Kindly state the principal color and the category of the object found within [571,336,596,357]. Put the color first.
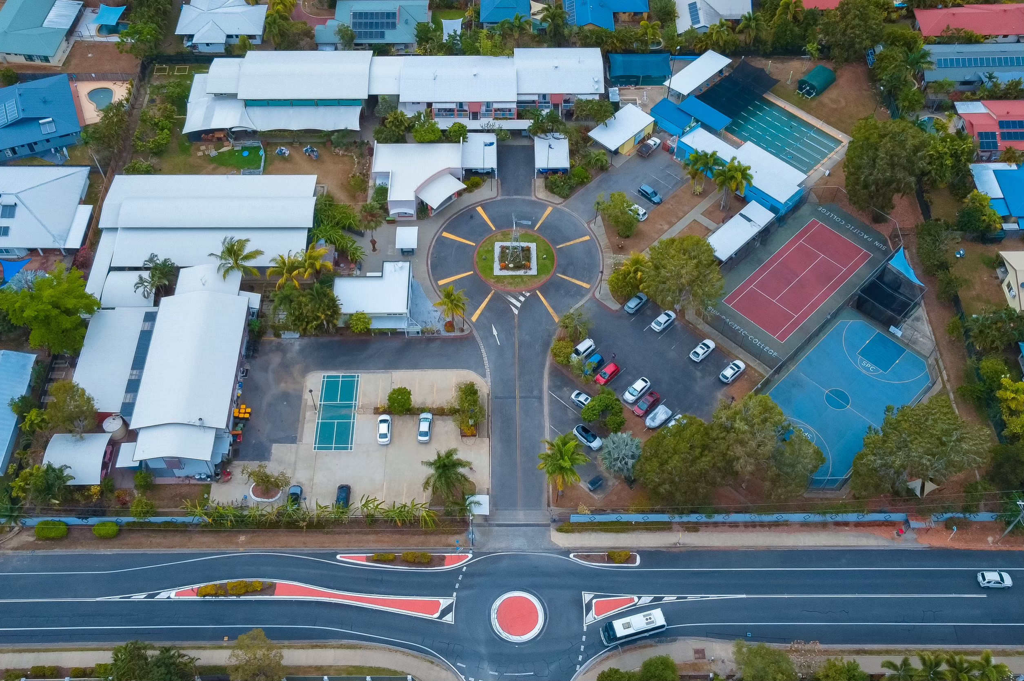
white car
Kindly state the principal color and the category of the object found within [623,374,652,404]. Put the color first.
white car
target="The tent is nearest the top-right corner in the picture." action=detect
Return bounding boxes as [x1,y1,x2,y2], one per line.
[798,67,838,97]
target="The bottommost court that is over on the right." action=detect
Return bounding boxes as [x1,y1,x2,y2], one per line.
[738,313,941,497]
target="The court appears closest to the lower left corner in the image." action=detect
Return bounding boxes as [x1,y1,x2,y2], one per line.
[313,373,360,451]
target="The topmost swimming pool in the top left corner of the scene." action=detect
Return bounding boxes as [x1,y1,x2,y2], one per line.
[96,21,127,36]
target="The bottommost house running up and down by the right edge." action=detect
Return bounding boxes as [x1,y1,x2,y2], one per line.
[993,251,1024,321]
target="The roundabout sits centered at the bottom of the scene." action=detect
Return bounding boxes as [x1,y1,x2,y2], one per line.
[491,591,544,643]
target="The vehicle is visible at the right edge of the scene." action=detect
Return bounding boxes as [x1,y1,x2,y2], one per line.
[976,570,1014,588]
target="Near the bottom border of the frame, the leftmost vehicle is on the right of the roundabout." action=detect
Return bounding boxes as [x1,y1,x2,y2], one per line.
[598,608,668,649]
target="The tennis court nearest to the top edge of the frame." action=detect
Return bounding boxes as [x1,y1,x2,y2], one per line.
[687,203,893,370]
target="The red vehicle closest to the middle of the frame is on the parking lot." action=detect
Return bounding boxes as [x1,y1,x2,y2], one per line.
[595,360,622,383]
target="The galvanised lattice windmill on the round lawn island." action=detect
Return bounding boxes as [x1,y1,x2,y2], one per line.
[508,217,532,262]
